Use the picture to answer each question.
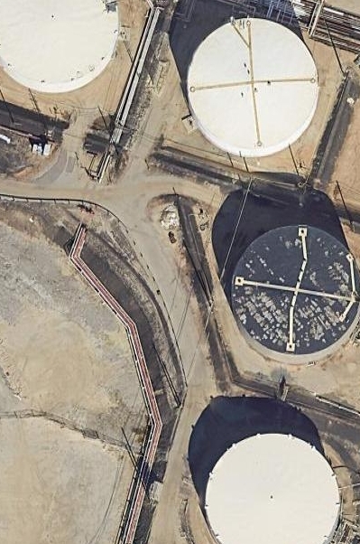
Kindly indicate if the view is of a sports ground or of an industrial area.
industrial area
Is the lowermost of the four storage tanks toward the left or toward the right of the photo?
right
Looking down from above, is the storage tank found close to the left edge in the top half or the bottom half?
top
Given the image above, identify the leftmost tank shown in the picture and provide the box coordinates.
[0,0,122,101]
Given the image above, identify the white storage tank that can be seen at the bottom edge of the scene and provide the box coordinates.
[199,432,343,544]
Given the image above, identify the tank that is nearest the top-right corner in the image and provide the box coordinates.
[182,17,320,159]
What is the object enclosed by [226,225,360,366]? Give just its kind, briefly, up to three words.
storage tank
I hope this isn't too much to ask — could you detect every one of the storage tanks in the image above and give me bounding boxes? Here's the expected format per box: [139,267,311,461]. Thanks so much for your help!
[226,225,360,366]
[0,0,122,101]
[199,432,343,544]
[182,17,320,159]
